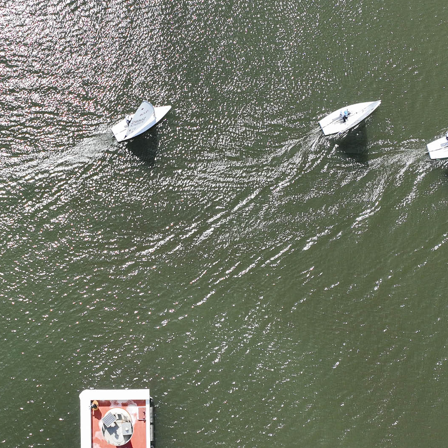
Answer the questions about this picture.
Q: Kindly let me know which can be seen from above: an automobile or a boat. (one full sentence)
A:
Of the two, only a boat appears.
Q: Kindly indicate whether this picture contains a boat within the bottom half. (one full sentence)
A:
No, no boat appears within the bottom half.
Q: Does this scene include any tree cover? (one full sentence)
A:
No, the picture contains no tree cover.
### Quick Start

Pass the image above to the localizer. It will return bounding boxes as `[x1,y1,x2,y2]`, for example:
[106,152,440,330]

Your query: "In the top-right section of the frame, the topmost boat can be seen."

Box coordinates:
[317,96,381,135]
